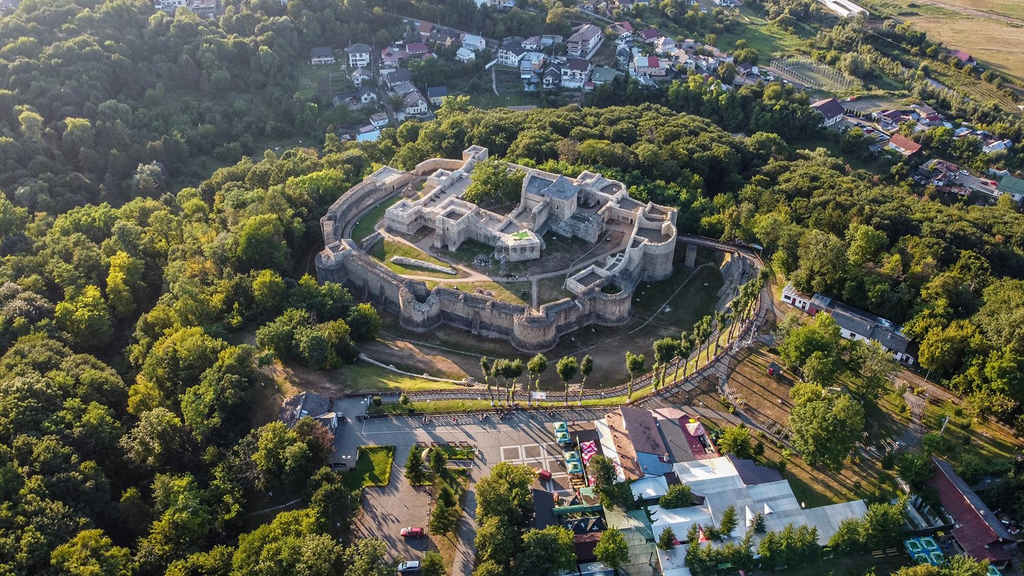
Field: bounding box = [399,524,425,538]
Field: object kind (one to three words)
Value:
car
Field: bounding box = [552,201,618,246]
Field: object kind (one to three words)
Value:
building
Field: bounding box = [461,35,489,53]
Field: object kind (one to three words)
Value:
house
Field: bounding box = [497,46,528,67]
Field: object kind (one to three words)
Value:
house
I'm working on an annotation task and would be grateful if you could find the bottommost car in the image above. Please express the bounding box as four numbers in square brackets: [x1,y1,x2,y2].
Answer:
[393,559,421,575]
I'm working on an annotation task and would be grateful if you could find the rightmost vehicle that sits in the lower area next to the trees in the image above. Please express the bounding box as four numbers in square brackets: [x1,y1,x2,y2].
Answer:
[531,466,556,481]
